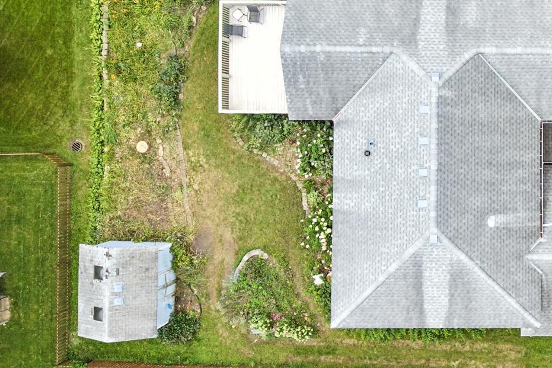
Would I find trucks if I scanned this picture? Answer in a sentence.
No, I can't see a single truck in this photo.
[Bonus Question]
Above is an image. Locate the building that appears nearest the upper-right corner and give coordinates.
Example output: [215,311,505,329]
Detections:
[280,0,552,336]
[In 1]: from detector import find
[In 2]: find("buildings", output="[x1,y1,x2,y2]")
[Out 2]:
[280,0,552,336]
[79,241,175,347]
